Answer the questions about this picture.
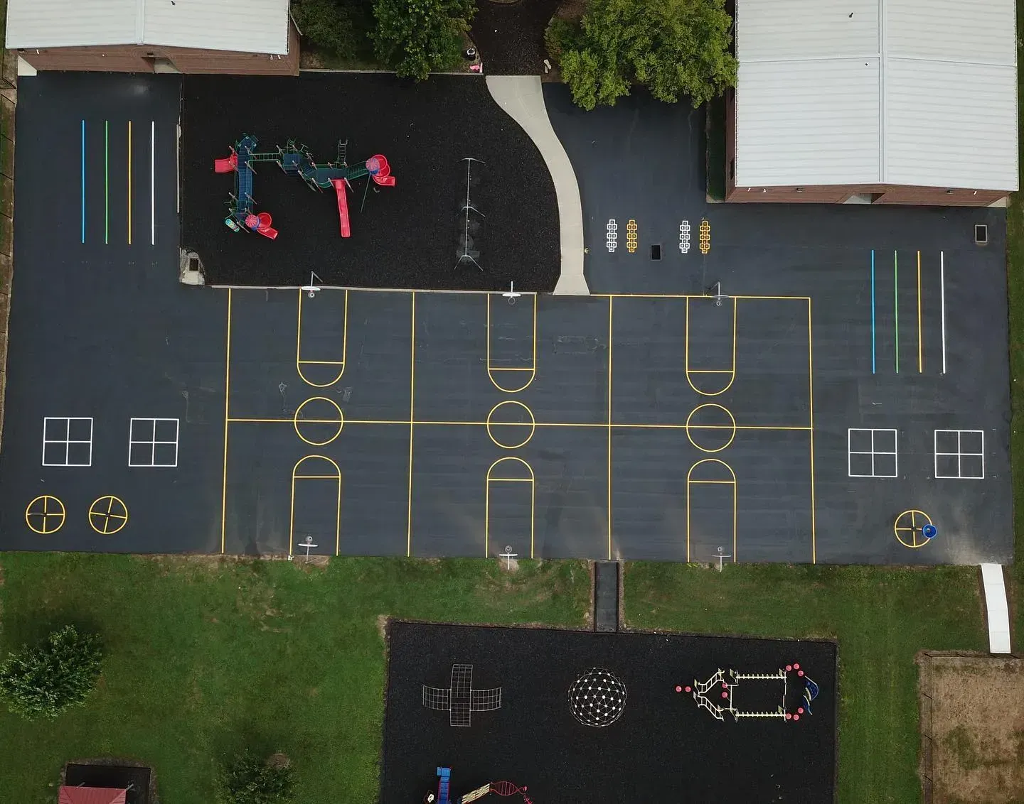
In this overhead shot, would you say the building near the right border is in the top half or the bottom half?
top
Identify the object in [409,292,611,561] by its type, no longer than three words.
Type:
basketball court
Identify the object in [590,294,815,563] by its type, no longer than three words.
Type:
basketball court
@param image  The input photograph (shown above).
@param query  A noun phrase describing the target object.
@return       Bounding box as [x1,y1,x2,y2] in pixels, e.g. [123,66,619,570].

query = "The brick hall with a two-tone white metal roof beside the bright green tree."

[722,0,1020,206]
